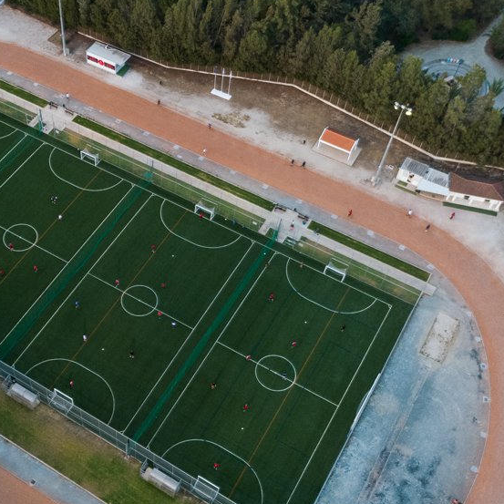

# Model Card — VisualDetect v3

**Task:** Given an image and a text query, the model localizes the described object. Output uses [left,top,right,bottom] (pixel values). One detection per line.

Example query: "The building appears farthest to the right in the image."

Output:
[442,161,504,223]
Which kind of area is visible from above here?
sports ground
